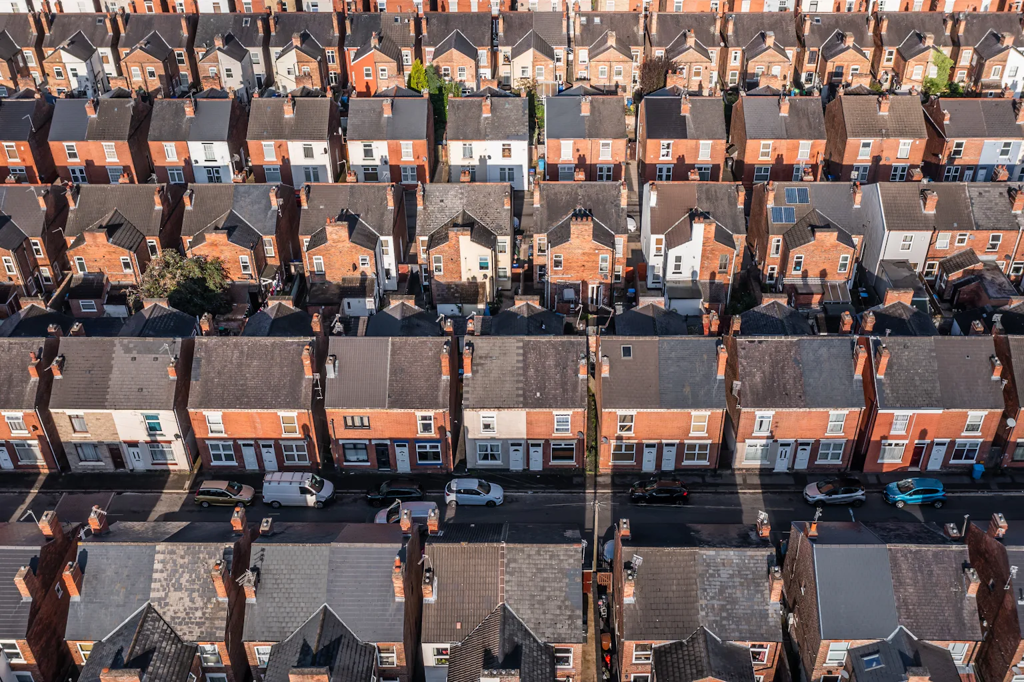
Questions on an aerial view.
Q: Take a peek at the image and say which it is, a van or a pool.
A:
van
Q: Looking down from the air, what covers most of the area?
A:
buildings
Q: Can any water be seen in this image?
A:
No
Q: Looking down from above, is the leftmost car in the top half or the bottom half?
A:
bottom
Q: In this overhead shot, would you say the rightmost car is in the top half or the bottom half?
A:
bottom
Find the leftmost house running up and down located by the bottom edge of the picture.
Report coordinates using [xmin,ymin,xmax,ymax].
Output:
[0,501,86,682]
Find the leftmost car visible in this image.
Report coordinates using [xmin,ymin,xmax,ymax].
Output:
[198,480,261,509]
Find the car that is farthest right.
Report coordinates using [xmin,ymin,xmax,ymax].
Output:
[882,477,951,509]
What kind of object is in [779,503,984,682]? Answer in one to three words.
house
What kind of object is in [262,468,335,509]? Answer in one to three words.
van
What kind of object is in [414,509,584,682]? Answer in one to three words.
house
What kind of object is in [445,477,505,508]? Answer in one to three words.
car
